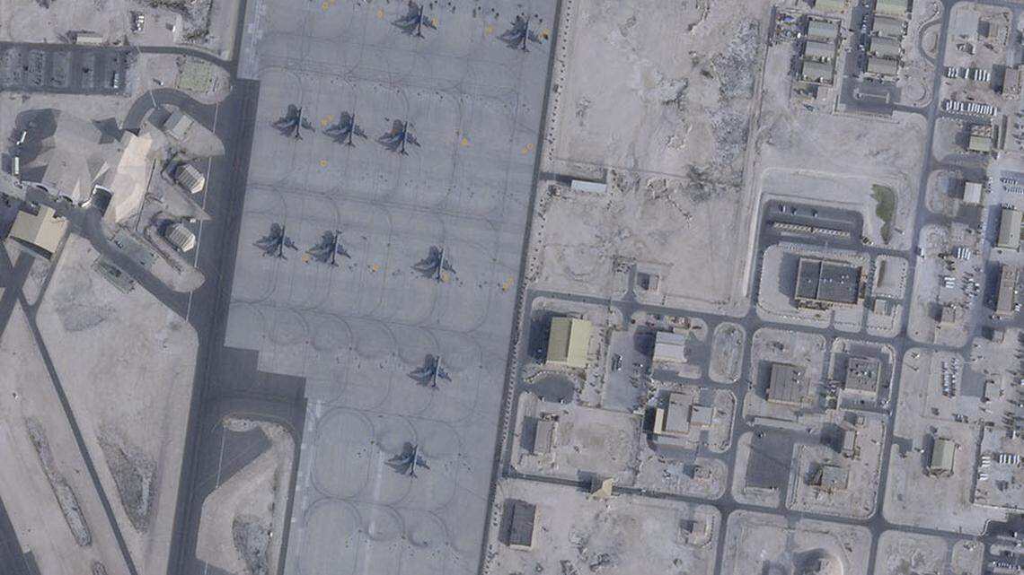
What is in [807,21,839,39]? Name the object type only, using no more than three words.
shed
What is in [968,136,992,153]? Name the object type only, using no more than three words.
building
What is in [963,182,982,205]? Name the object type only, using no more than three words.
building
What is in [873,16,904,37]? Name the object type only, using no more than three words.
shed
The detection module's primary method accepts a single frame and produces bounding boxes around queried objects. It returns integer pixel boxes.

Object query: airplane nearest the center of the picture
[422,249,456,280]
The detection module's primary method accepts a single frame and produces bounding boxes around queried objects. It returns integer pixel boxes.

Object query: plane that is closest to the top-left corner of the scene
[281,107,315,138]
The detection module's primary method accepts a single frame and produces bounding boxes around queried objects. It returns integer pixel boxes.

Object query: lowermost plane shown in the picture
[396,445,431,477]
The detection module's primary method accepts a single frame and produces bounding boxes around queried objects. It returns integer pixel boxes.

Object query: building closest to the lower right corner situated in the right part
[930,437,955,472]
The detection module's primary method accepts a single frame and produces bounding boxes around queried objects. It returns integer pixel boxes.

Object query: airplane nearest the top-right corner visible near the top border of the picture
[509,17,543,48]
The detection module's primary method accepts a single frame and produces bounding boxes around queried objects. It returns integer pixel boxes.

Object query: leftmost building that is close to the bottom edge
[509,504,536,547]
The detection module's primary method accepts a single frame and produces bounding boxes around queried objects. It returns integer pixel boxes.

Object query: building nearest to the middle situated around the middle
[546,316,591,370]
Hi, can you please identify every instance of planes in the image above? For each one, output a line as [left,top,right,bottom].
[281,107,315,138]
[334,113,368,144]
[396,445,431,477]
[418,356,452,388]
[387,123,421,153]
[509,17,543,48]
[422,249,456,280]
[403,6,437,36]
[317,233,352,264]
[264,226,298,257]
